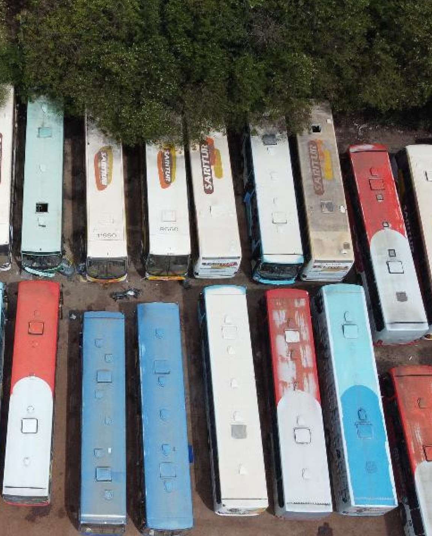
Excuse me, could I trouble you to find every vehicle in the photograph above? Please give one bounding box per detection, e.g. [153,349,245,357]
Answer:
[19,88,66,277]
[288,94,353,282]
[310,287,399,517]
[3,282,64,507]
[391,147,432,341]
[378,367,432,536]
[256,291,331,521]
[111,283,141,299]
[339,147,426,347]
[75,314,130,536]
[197,287,267,518]
[0,82,16,267]
[185,115,241,278]
[83,92,130,280]
[140,90,191,277]
[237,95,303,285]
[132,304,195,536]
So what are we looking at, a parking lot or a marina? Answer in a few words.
parking lot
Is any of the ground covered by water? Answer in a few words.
No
